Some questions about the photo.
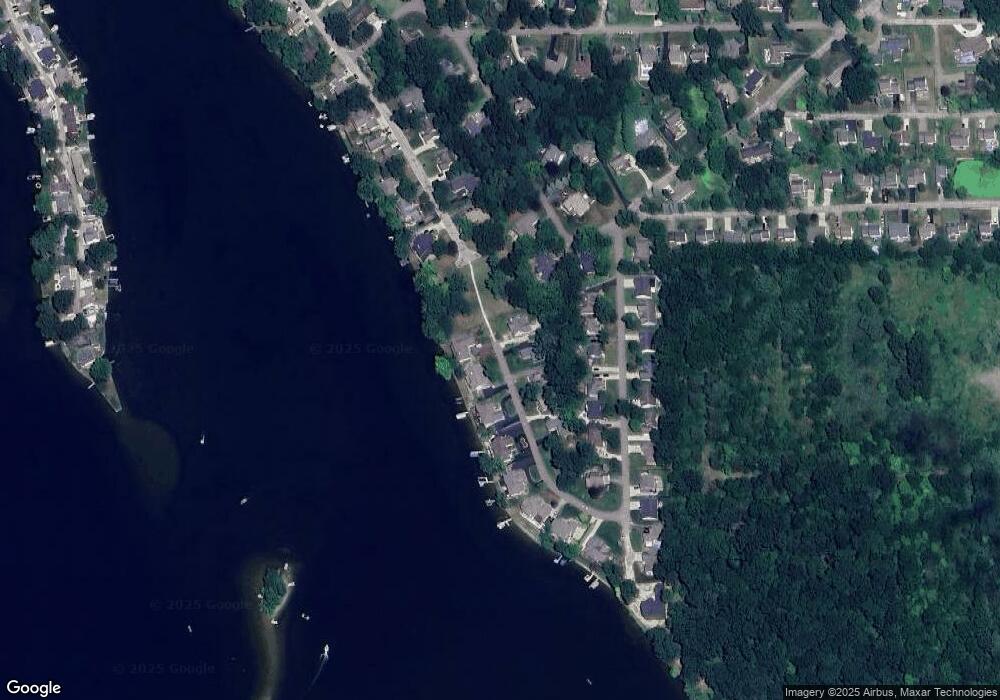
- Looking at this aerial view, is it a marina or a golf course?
marina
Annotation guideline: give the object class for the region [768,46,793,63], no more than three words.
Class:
house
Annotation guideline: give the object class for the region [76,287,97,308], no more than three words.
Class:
house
